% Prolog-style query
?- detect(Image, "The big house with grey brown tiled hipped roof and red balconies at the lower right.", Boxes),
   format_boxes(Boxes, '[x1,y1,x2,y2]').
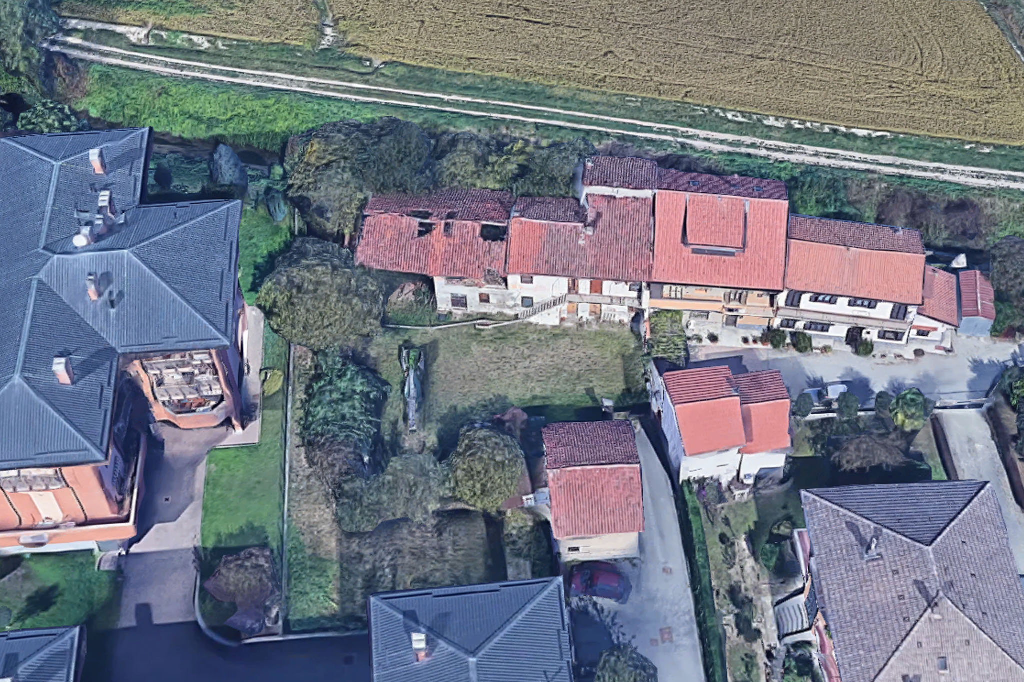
[786,479,1024,682]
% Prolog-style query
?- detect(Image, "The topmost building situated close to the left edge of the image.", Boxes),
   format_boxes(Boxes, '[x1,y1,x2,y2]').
[0,125,248,568]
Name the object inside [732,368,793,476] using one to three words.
building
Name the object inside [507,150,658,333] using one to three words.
house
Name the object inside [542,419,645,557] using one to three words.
building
